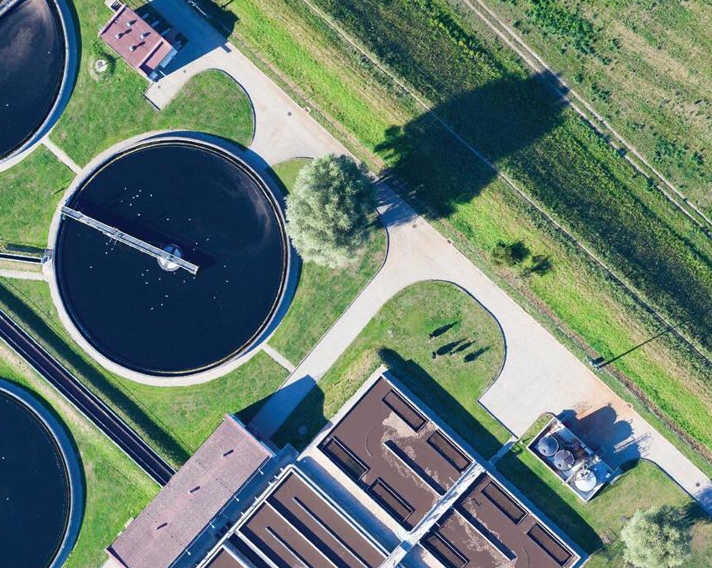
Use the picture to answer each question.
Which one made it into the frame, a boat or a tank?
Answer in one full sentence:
I can see a tank in this picture.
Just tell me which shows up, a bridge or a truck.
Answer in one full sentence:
This aerial view contains a bridge.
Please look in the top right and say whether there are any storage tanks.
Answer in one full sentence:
No, I can find no storage tank in the top right.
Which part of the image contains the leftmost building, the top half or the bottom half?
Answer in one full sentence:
The leftmost building sits in the top half of the picture.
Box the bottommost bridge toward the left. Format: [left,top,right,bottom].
[61,205,200,272]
